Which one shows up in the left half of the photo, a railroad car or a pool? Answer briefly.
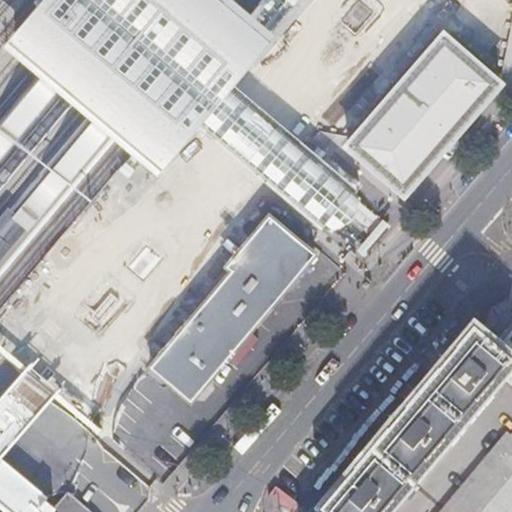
railroad car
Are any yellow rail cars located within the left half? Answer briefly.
No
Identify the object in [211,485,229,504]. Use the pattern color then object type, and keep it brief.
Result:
gray car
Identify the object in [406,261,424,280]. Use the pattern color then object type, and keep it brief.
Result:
red car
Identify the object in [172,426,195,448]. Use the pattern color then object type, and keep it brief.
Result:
white car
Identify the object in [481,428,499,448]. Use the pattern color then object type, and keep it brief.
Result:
gray car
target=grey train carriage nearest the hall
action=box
[16,95,70,156]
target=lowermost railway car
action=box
[0,150,24,188]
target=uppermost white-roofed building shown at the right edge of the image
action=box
[342,30,505,200]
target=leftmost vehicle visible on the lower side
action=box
[80,484,98,504]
